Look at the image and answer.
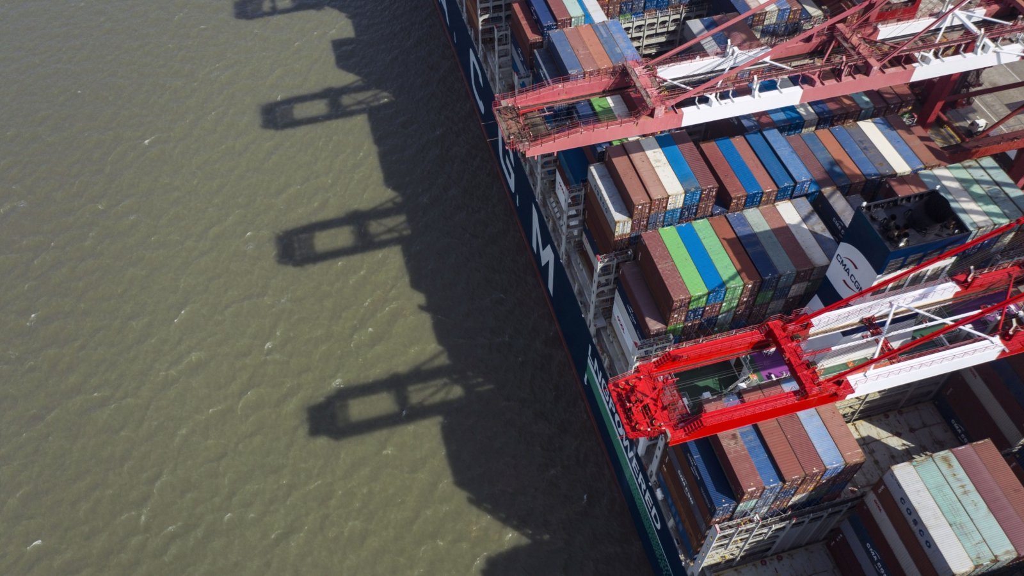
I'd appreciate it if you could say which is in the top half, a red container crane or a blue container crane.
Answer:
red container crane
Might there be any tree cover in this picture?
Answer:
No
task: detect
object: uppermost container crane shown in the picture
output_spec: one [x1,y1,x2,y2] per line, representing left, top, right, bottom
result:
[804,0,963,64]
